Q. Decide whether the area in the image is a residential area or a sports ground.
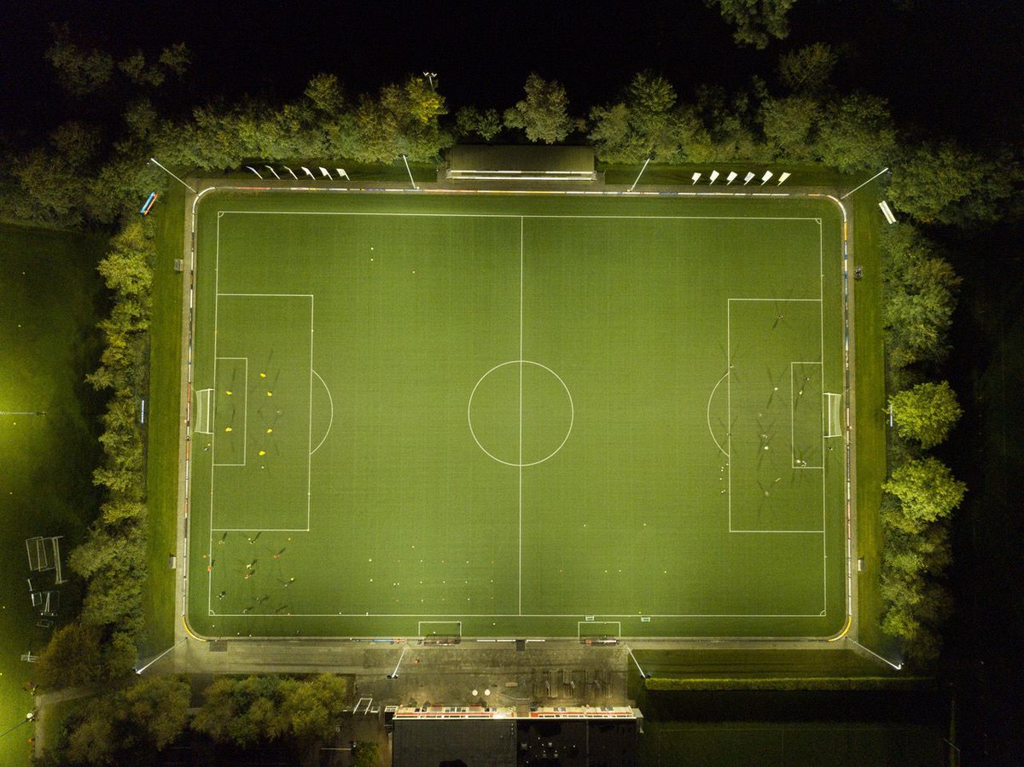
sports ground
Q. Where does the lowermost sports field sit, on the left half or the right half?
right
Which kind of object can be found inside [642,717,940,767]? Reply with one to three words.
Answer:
sports field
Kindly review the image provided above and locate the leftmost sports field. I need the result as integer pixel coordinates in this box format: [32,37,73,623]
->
[0,224,108,767]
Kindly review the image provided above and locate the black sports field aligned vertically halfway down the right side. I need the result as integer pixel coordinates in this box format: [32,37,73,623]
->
[960,224,1024,674]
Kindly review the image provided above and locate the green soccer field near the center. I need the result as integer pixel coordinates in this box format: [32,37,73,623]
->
[188,190,846,637]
